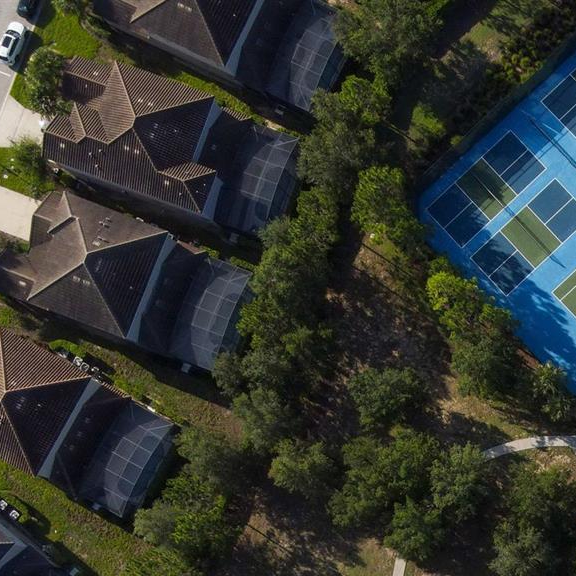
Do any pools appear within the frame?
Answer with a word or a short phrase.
Yes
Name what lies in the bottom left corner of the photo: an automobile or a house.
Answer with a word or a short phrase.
house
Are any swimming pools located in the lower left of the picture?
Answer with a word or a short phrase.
Yes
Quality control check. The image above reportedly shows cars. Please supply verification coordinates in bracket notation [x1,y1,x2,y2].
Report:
[16,0,42,21]
[0,21,27,67]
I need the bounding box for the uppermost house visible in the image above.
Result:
[91,0,354,124]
